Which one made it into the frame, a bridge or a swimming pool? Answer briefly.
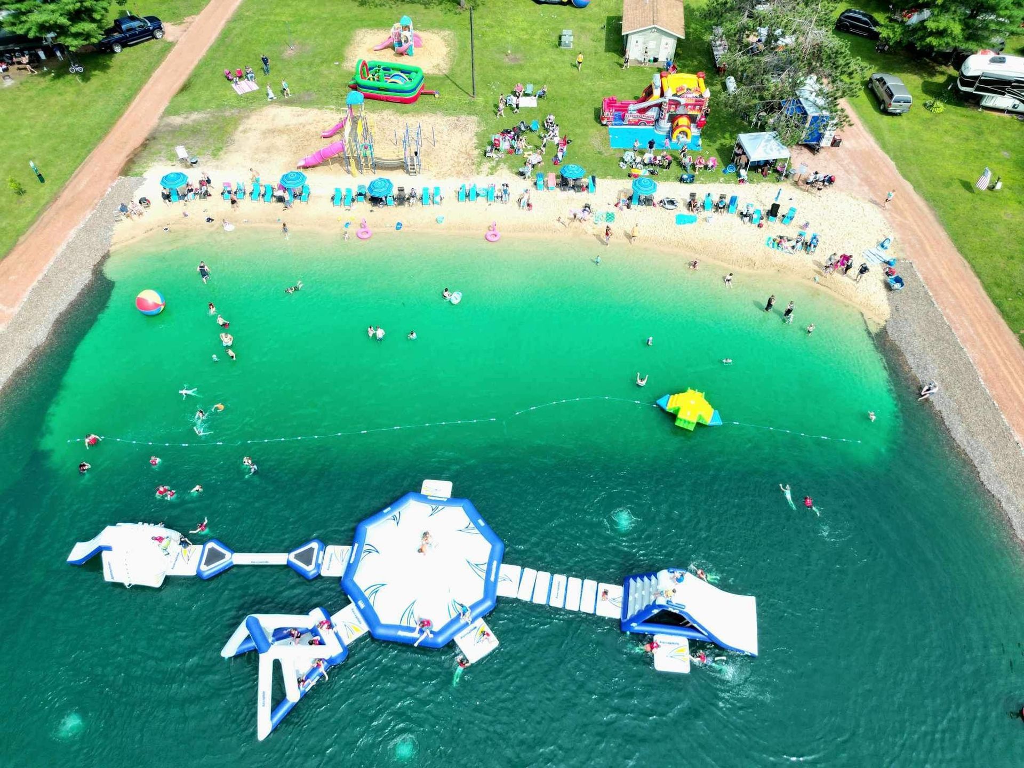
bridge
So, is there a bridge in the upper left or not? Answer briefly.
No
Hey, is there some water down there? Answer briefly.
Yes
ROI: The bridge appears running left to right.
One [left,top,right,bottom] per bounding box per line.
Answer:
[517,568,598,614]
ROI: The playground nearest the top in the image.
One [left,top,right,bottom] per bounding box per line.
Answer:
[374,12,425,57]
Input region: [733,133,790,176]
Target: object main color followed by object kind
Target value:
white tent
